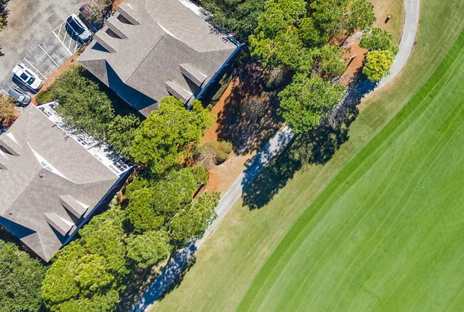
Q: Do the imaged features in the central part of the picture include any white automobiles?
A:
No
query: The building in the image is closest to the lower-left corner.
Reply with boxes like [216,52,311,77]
[0,96,136,263]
